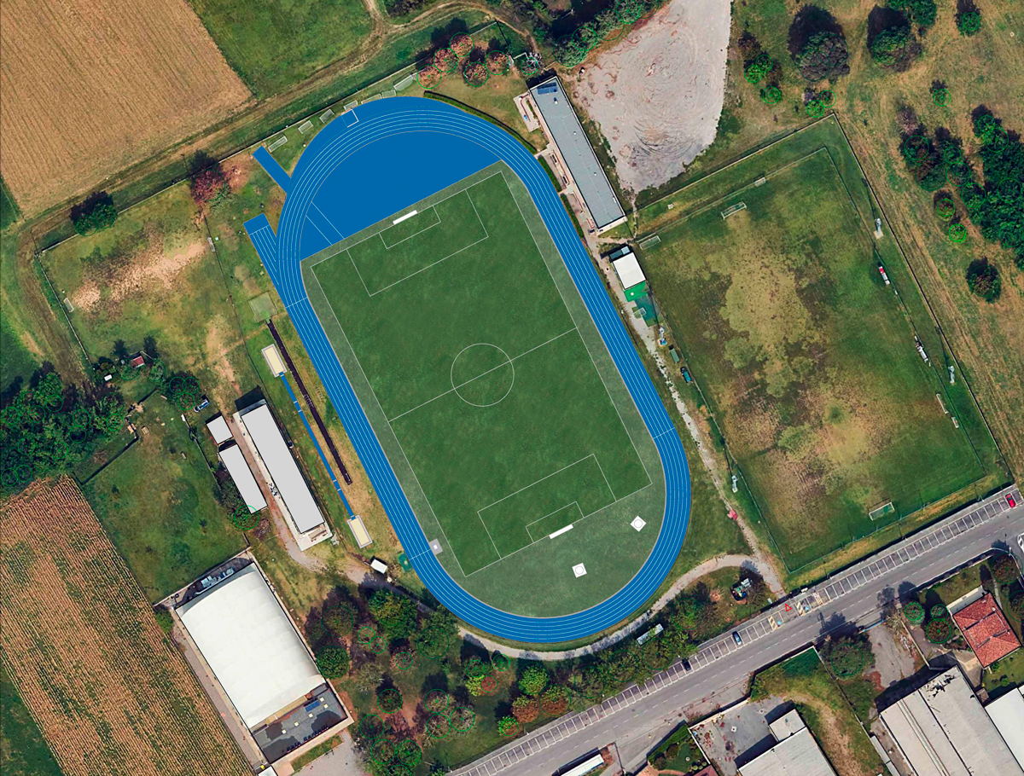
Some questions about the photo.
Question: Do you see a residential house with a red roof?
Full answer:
Yes, the frame does contain a residential house with a red roof.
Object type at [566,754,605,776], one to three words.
bus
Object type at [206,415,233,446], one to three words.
building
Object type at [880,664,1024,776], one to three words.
warehouse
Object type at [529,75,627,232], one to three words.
building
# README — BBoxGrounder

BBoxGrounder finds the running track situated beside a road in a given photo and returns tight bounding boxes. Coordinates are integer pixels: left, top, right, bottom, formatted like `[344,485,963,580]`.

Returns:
[244,96,690,643]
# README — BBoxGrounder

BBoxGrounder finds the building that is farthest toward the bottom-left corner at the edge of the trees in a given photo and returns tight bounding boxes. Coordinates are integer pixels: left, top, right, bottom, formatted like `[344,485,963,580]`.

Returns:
[176,562,348,766]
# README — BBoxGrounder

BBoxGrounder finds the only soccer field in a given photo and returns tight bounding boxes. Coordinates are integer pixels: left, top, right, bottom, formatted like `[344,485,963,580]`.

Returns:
[301,161,665,618]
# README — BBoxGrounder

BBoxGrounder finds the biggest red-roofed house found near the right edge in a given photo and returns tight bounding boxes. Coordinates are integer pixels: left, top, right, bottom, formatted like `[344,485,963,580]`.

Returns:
[947,584,1022,668]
